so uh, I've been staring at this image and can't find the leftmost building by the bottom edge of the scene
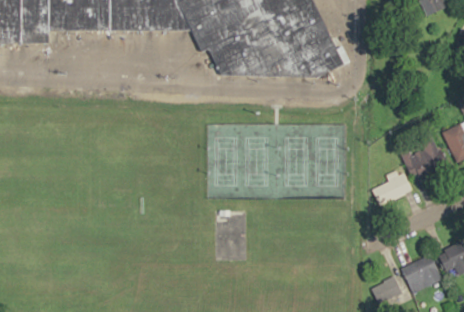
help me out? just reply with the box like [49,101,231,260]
[372,280,401,302]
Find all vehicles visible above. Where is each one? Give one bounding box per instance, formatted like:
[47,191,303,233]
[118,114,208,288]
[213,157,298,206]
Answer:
[413,194,420,204]
[404,252,410,262]
[399,255,406,266]
[408,230,418,238]
[396,246,402,256]
[400,242,407,254]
